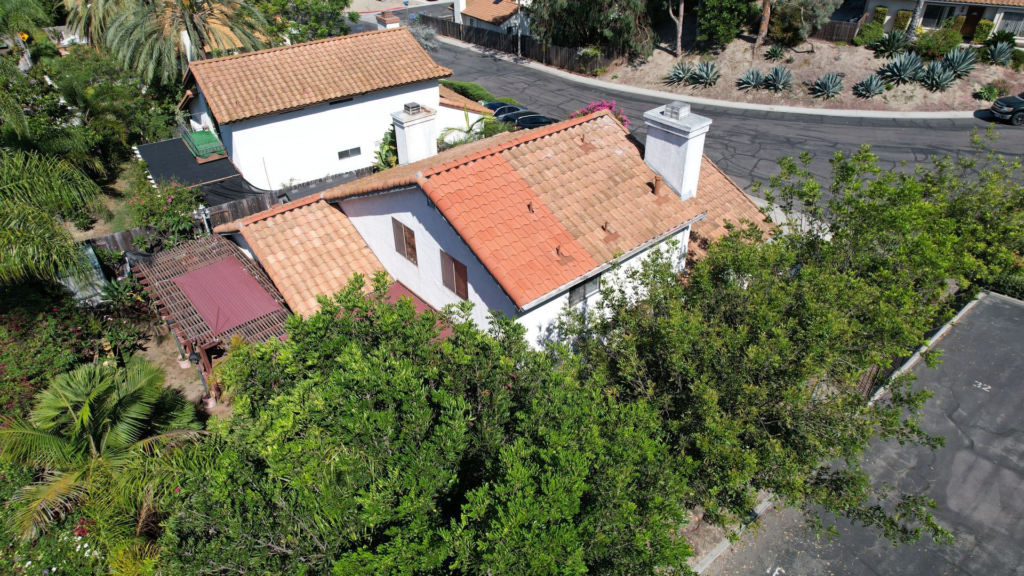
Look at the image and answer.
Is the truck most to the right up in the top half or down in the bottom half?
top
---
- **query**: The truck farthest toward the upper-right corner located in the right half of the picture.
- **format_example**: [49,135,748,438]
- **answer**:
[985,93,1024,126]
